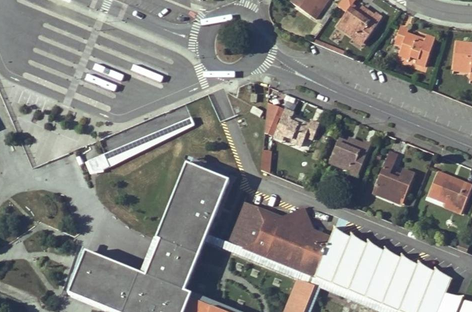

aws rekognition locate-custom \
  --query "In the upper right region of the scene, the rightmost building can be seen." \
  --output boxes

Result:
[451,41,472,80]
